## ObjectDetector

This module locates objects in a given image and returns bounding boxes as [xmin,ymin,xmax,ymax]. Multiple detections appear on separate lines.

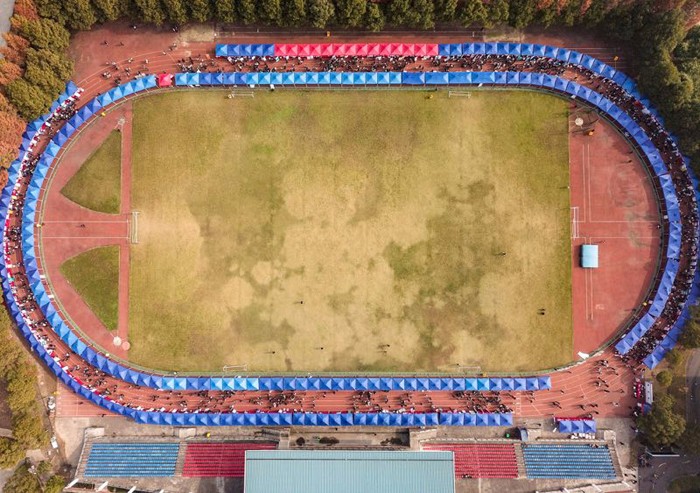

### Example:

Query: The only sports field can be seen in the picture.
[128,90,574,372]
